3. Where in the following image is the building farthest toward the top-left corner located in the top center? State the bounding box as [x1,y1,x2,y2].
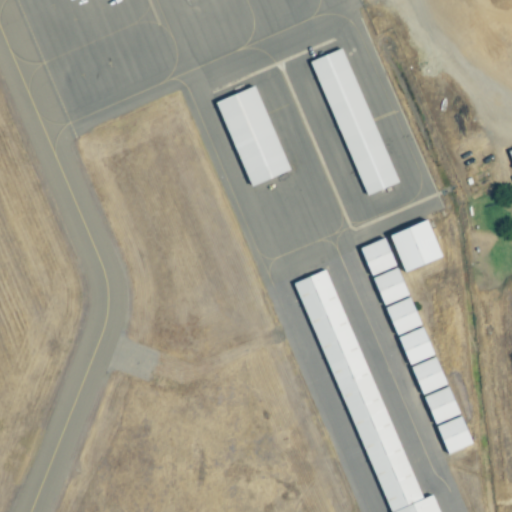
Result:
[217,86,292,186]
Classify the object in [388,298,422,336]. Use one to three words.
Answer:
hangar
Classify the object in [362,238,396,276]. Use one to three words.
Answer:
hangar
